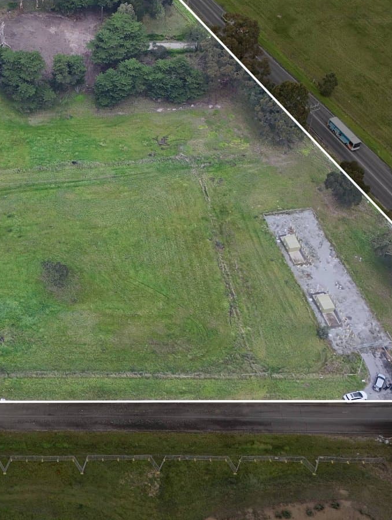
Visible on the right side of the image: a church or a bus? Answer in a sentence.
Looking on the right side of the image, you will find a bus.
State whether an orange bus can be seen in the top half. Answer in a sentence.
No, the scene shows no orange bus in the top half.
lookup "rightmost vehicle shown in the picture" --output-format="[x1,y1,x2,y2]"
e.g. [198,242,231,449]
[374,373,387,391]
